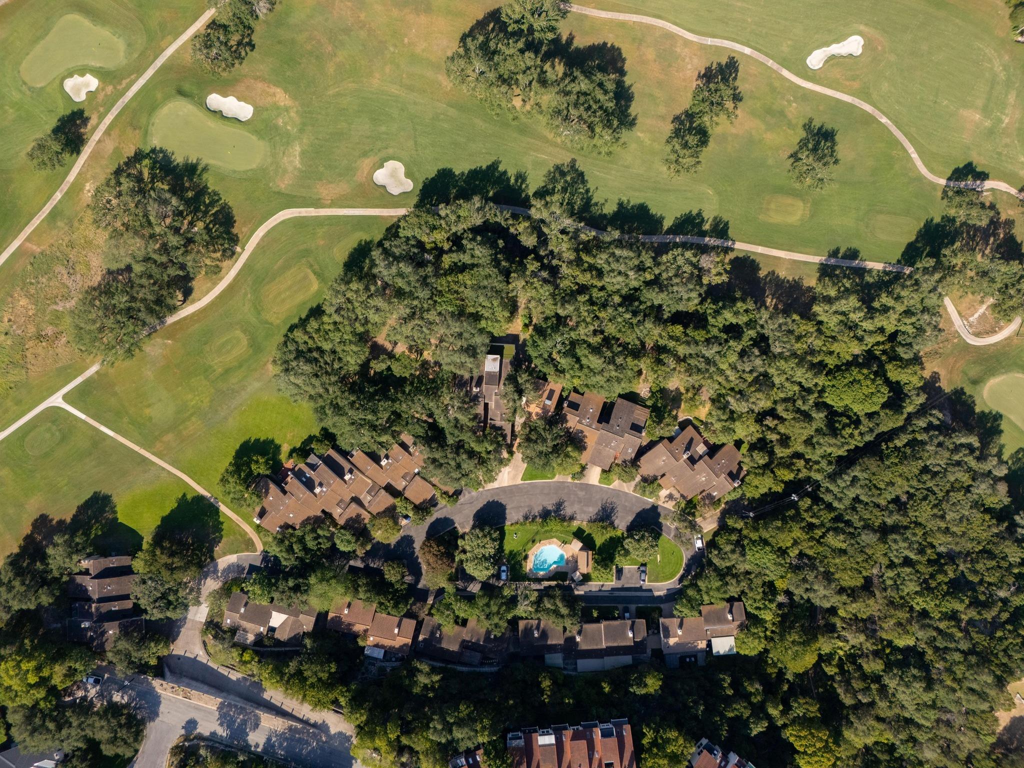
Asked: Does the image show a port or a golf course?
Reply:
golf course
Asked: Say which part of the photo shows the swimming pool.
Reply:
bottom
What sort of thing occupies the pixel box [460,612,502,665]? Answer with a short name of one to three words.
house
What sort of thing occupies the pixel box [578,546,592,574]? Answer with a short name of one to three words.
building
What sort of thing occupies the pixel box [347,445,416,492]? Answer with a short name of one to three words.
house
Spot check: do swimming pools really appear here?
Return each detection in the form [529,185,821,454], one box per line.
[527,539,578,580]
